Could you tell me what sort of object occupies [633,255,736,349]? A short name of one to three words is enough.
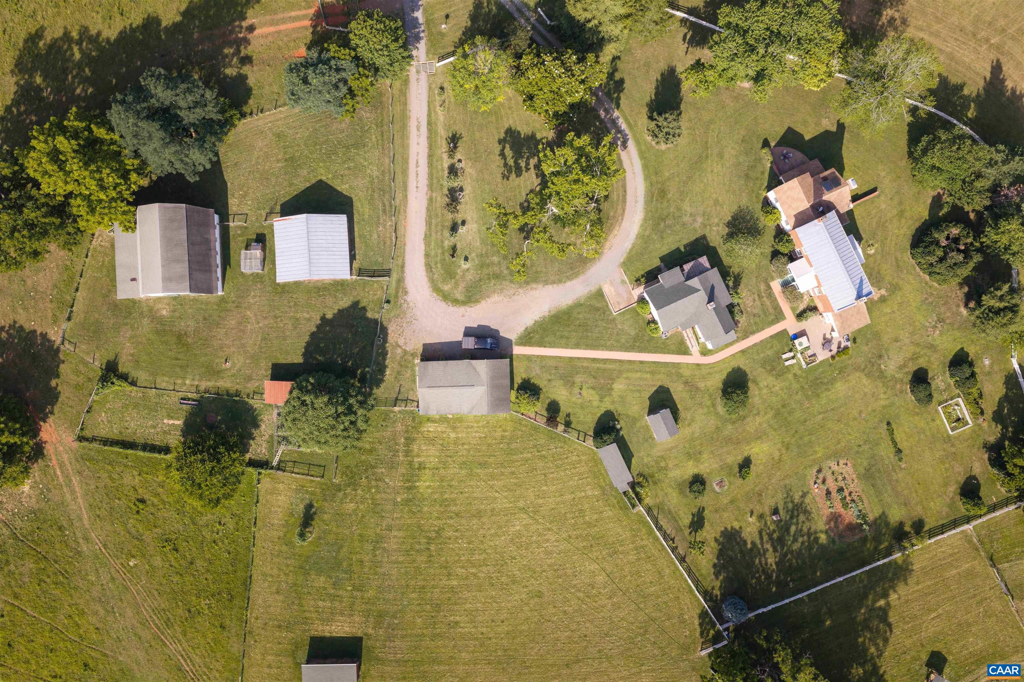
house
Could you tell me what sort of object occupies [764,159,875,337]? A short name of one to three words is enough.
house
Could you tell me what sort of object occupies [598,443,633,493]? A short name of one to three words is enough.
shed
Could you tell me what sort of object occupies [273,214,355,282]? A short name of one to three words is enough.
barn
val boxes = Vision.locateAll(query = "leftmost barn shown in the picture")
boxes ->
[115,203,221,301]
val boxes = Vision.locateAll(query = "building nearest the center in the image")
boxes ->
[418,359,511,415]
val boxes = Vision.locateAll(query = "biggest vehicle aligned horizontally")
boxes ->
[460,336,499,351]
